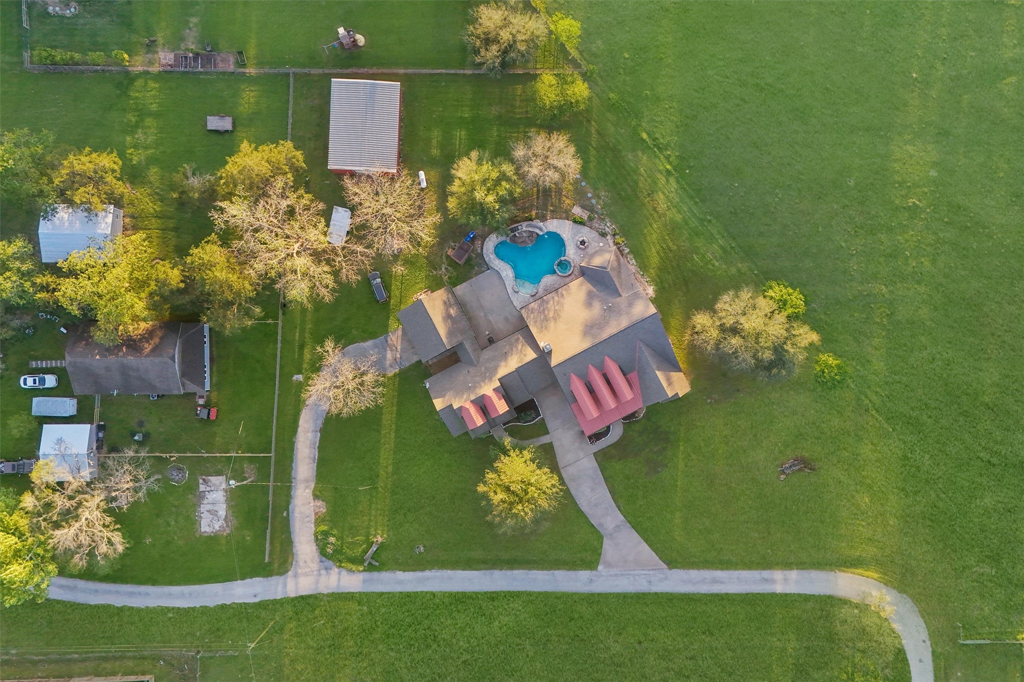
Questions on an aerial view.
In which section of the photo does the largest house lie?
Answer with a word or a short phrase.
center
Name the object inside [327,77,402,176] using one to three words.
barn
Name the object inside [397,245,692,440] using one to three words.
house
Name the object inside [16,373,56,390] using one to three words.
car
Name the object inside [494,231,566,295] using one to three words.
swimming pool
